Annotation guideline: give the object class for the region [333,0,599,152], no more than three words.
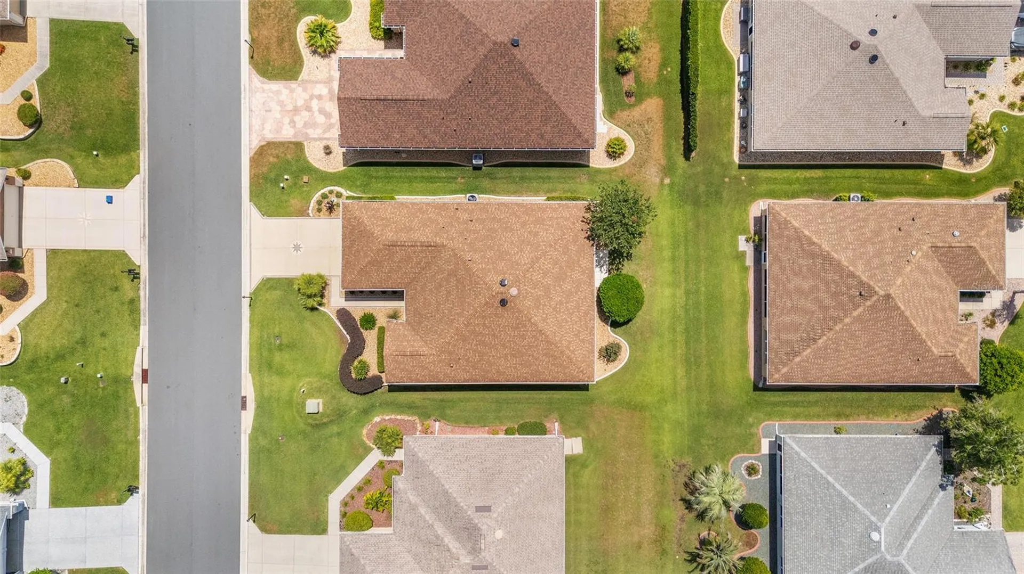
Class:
house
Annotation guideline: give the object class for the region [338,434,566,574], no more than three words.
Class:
house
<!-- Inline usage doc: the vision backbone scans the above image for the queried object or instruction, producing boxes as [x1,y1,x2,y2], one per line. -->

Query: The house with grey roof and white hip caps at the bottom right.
[776,434,1017,574]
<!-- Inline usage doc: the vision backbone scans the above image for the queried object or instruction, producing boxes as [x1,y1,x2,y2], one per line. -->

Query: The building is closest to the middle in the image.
[340,200,596,385]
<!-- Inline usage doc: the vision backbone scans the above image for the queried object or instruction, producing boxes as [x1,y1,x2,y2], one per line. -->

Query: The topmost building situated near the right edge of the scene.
[747,0,1024,154]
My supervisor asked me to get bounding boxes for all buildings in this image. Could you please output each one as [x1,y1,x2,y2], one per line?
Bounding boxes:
[747,0,1024,154]
[0,168,29,261]
[0,499,28,574]
[340,200,596,385]
[762,199,1008,386]
[338,434,566,574]
[776,434,1017,574]
[0,0,31,25]
[333,0,599,152]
